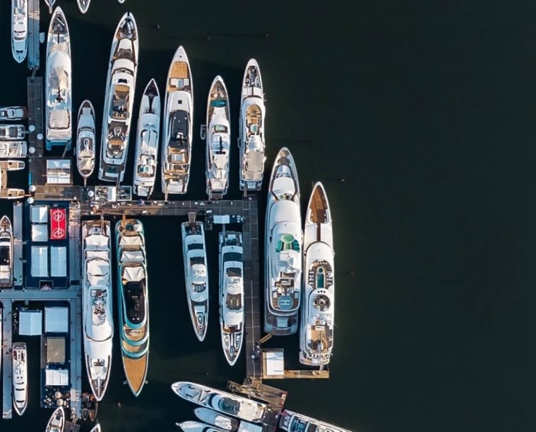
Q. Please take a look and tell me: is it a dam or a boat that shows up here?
boat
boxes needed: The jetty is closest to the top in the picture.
[28,0,40,69]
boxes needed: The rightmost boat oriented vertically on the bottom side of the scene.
[298,182,334,368]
